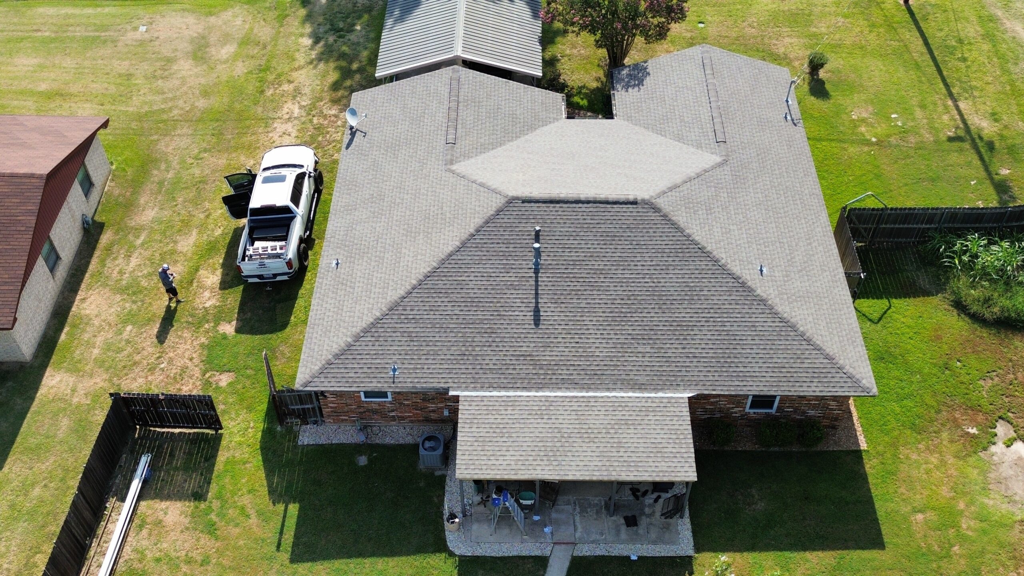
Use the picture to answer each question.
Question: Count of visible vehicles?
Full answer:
I count 1 vehicle.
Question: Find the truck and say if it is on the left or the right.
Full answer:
It is on the left.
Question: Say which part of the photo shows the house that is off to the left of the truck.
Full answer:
Look in the left portion of the view to spot the house that is off to the left of the truck.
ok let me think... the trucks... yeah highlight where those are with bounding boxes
[217,142,323,289]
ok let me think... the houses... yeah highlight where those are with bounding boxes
[0,115,107,363]
[293,45,879,430]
